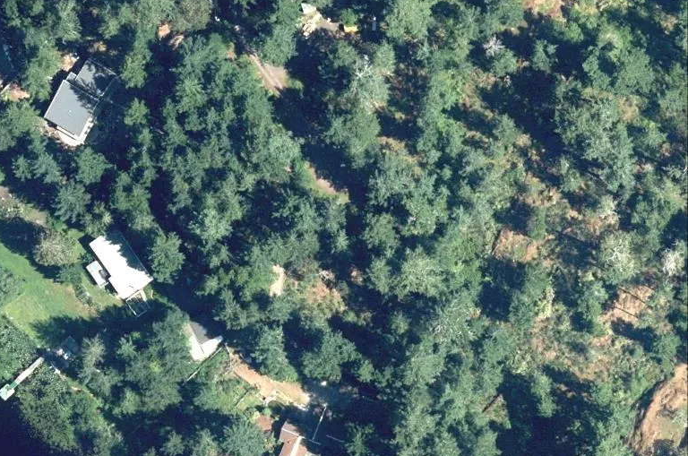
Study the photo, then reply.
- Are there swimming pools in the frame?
No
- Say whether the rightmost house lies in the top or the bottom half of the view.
bottom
